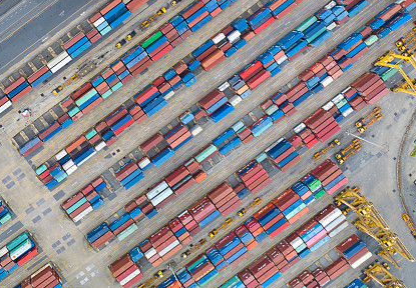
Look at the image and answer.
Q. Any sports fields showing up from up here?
No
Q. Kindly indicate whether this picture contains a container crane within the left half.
No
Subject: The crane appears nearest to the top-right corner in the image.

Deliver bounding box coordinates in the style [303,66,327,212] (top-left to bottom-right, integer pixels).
[373,51,416,93]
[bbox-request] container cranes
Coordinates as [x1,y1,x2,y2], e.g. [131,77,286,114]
[373,51,416,93]
[353,219,416,275]
[334,183,395,239]
[360,260,407,288]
